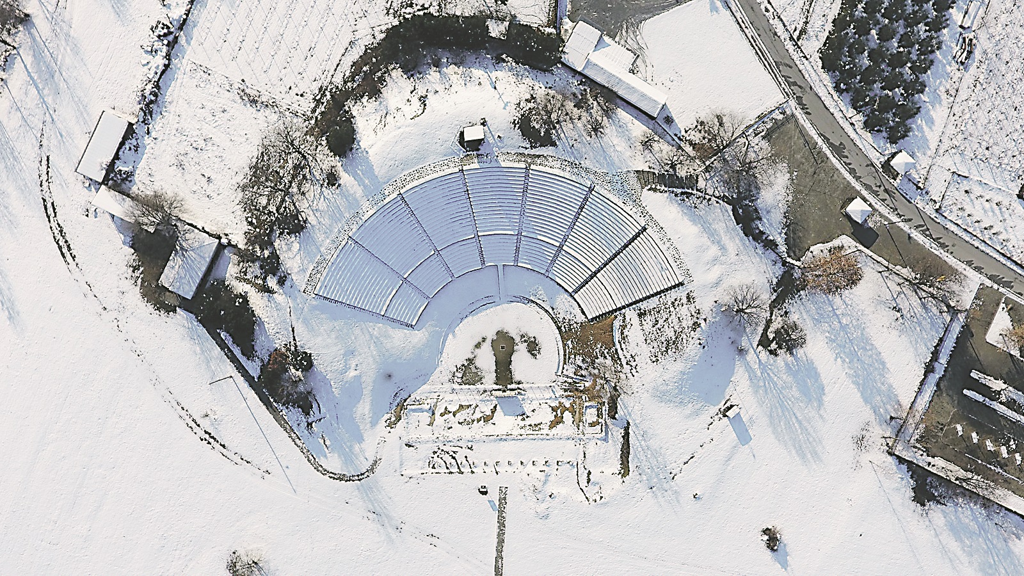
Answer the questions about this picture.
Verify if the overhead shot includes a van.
No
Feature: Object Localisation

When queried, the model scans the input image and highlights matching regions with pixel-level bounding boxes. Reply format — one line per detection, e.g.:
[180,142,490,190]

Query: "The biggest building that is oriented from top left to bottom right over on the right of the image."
[581,51,667,121]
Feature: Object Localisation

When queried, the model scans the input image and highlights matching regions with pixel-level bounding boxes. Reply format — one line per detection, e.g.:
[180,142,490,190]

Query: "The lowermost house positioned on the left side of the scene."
[159,235,222,299]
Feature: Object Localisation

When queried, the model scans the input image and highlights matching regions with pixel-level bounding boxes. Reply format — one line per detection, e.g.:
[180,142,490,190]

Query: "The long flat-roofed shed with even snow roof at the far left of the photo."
[76,111,133,183]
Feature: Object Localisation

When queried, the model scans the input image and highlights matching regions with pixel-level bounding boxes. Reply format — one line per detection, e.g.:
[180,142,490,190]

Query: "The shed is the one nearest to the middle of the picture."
[458,126,485,156]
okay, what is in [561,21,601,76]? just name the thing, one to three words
house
